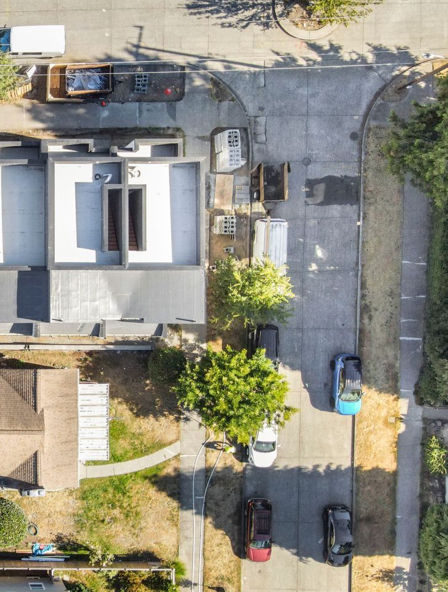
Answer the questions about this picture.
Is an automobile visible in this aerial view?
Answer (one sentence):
Yes, the frame does contain an automobile.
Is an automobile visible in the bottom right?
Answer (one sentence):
Yes, an automobile is visible in the bottom right.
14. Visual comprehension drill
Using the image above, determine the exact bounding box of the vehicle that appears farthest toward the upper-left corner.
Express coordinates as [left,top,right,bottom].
[0,22,68,60]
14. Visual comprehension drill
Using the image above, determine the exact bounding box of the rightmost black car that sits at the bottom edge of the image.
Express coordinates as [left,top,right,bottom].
[321,504,355,566]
